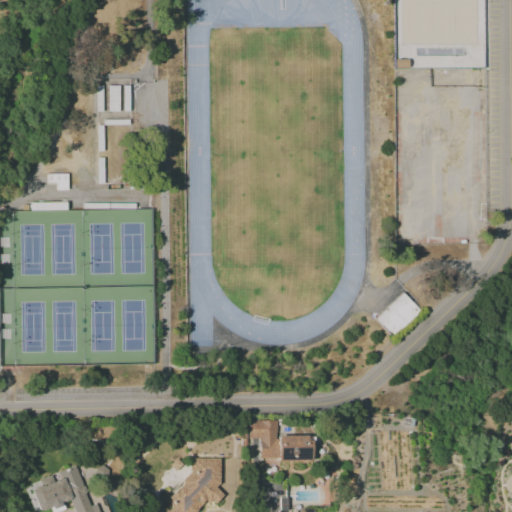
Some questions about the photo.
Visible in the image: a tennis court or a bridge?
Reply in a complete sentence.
It is a tennis court that can be seen here.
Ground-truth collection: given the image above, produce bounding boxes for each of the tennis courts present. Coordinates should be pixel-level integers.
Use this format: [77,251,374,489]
[88,223,114,274]
[21,224,46,275]
[50,224,76,274]
[120,300,146,352]
[92,300,116,352]
[52,301,76,352]
[22,302,46,352]
[121,223,145,274]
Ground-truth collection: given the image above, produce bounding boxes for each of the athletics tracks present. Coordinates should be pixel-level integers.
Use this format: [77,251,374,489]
[187,0,366,346]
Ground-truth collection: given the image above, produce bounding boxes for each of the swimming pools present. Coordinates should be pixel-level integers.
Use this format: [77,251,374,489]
[296,490,320,502]
[104,494,120,512]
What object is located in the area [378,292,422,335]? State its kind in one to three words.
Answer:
building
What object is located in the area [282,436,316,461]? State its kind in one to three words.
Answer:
house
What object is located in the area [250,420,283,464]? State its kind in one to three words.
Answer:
house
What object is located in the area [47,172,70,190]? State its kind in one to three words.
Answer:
building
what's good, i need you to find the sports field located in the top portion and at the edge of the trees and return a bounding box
[210,28,346,320]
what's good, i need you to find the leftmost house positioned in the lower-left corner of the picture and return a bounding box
[26,466,98,512]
